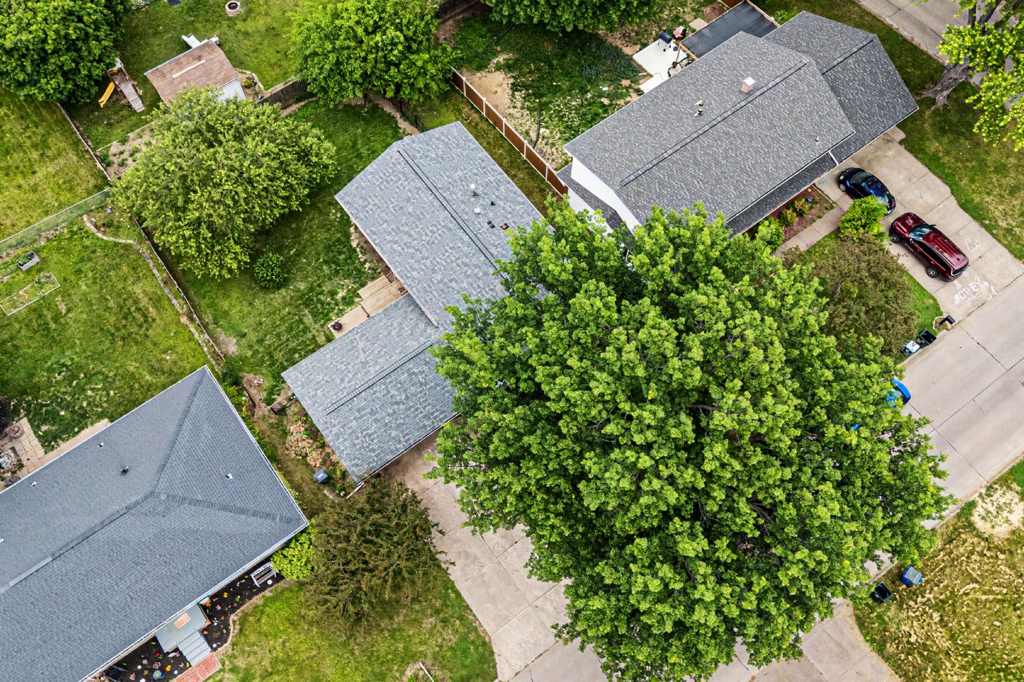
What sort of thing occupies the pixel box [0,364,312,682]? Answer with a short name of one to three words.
house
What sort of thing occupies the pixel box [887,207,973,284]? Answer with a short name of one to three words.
car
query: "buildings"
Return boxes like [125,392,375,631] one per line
[552,7,921,248]
[146,39,249,128]
[282,120,590,486]
[0,364,312,682]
